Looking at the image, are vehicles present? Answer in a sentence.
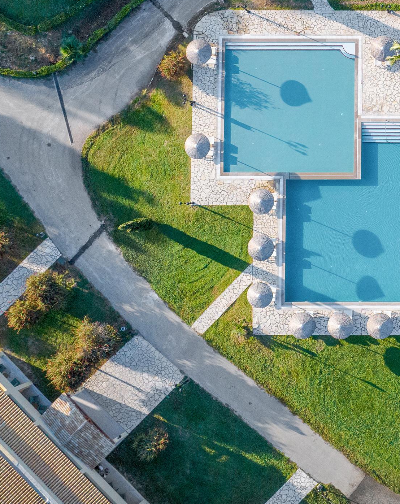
No, no vehicle is visible in the view.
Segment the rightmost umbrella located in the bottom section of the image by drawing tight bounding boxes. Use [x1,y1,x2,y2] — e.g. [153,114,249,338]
[368,312,392,337]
